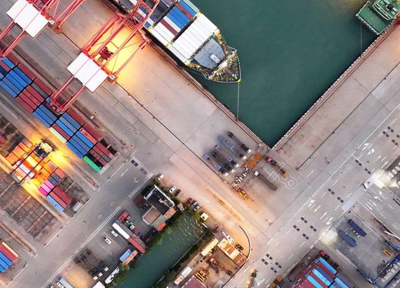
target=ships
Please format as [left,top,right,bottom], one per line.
[116,0,241,82]
[355,0,400,37]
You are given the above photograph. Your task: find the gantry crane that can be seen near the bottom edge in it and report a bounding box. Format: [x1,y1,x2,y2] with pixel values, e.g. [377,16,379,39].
[356,237,400,285]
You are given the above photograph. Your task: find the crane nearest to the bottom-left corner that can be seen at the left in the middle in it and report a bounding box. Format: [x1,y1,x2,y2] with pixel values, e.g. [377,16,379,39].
[8,138,56,186]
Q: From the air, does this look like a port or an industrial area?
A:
port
